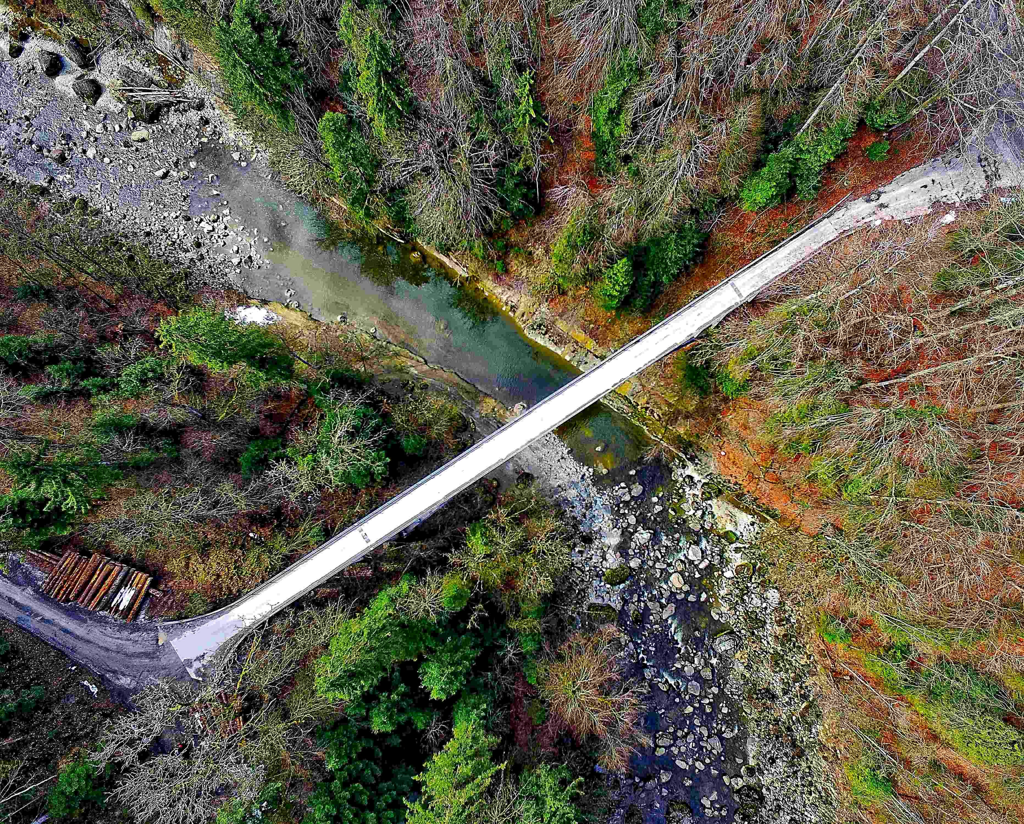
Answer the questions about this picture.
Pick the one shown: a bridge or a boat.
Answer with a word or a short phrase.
bridge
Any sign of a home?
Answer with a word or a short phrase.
No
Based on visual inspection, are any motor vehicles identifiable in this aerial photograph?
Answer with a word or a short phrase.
No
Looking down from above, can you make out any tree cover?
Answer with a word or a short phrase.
Yes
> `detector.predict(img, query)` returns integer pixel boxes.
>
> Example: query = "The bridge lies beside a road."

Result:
[178,209,842,667]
